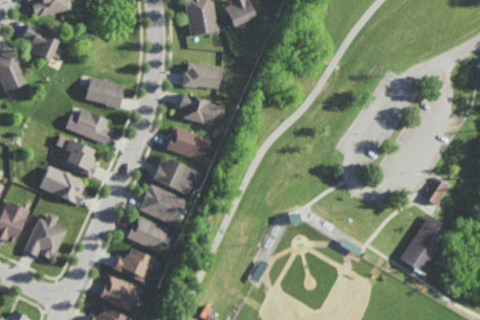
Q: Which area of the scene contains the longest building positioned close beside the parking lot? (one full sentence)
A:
The longest building positioned close beside the parking lot appears toward the bottom right of the photo.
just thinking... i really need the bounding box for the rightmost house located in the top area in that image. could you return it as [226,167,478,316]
[222,0,259,28]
